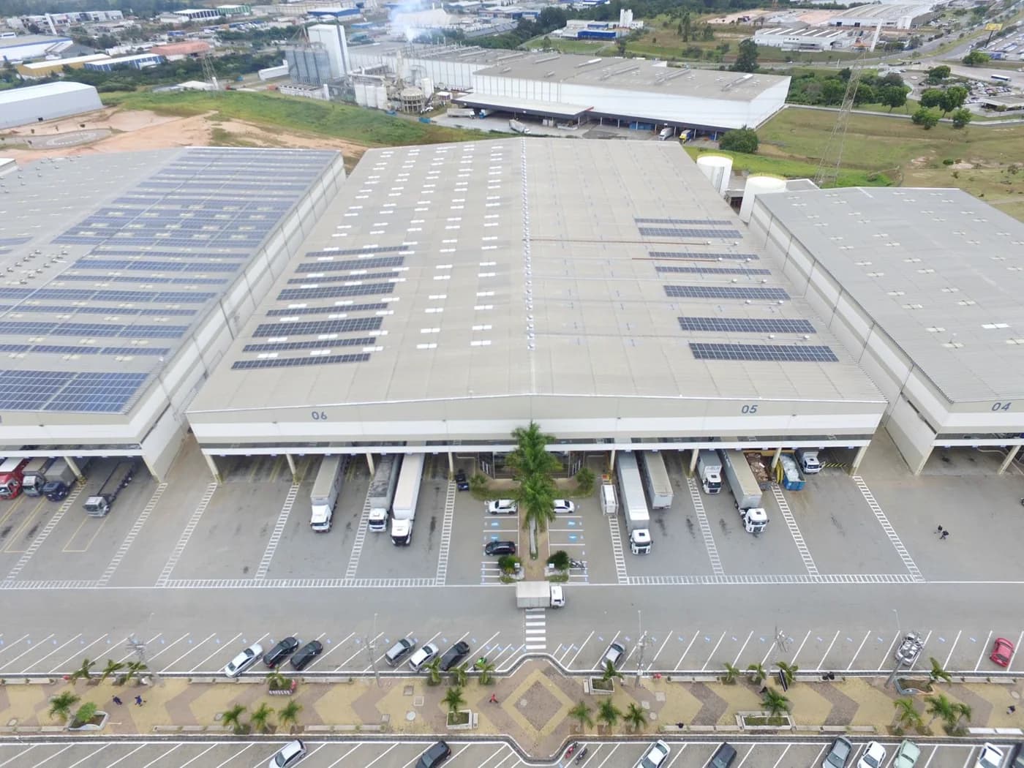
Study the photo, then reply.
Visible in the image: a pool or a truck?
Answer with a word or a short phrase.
truck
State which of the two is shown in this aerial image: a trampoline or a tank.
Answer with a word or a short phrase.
tank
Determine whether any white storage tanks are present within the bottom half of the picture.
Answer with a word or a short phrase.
No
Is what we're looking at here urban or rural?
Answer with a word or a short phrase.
urban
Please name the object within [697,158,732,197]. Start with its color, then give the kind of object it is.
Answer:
white storage tank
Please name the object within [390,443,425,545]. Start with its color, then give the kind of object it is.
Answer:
white truck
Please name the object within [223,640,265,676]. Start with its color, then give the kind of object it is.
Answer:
white car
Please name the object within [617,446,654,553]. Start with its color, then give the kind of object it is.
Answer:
white truck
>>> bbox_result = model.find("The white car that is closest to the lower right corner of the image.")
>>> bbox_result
[982,741,1008,768]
